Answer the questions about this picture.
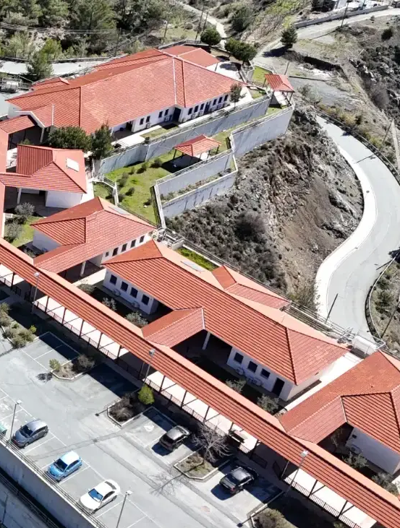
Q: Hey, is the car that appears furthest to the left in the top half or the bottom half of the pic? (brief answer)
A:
bottom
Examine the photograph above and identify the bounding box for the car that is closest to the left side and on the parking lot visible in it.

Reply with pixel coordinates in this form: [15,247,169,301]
[14,418,51,449]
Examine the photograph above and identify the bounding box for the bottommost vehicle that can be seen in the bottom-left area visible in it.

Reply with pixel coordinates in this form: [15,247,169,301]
[81,478,124,514]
